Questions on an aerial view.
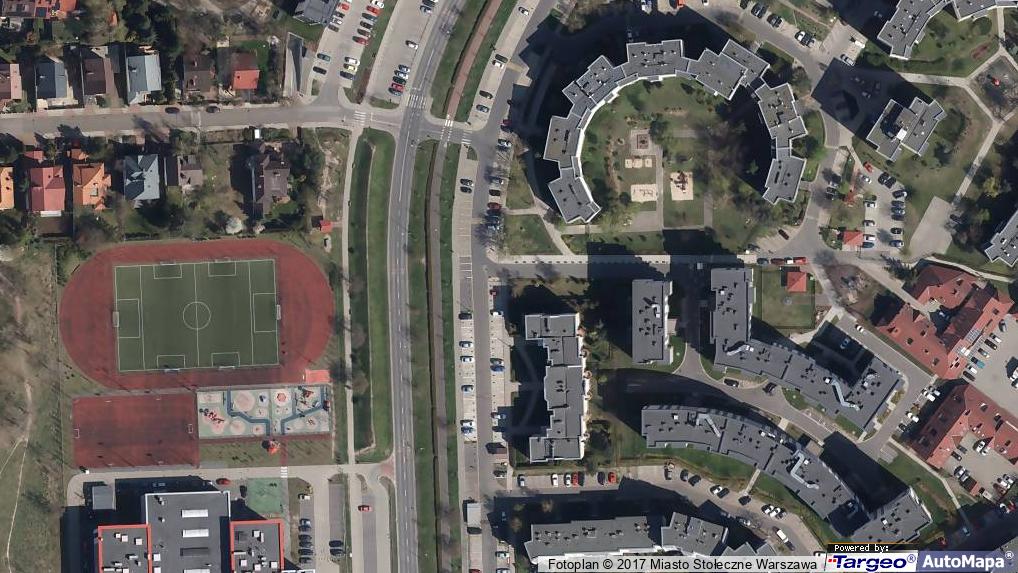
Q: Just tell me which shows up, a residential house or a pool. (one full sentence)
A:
I can see a residential house in this picture.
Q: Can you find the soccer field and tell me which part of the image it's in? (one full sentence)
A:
The soccer field is in the left part of the image.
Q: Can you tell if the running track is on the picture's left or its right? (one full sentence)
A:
The running track is on the left side of the image.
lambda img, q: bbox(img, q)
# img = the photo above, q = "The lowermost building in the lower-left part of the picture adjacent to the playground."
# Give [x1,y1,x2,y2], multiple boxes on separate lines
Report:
[97,492,284,573]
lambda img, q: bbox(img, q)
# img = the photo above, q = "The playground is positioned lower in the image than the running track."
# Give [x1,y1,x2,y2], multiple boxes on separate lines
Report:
[197,384,329,437]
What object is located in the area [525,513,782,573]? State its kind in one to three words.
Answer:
building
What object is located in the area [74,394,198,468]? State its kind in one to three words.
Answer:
sports court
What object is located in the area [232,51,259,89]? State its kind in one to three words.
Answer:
house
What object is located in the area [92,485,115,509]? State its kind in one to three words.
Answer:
shed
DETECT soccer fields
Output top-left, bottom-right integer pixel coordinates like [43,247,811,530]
[114,259,279,372]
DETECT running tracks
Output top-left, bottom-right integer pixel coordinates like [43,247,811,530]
[60,240,334,389]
